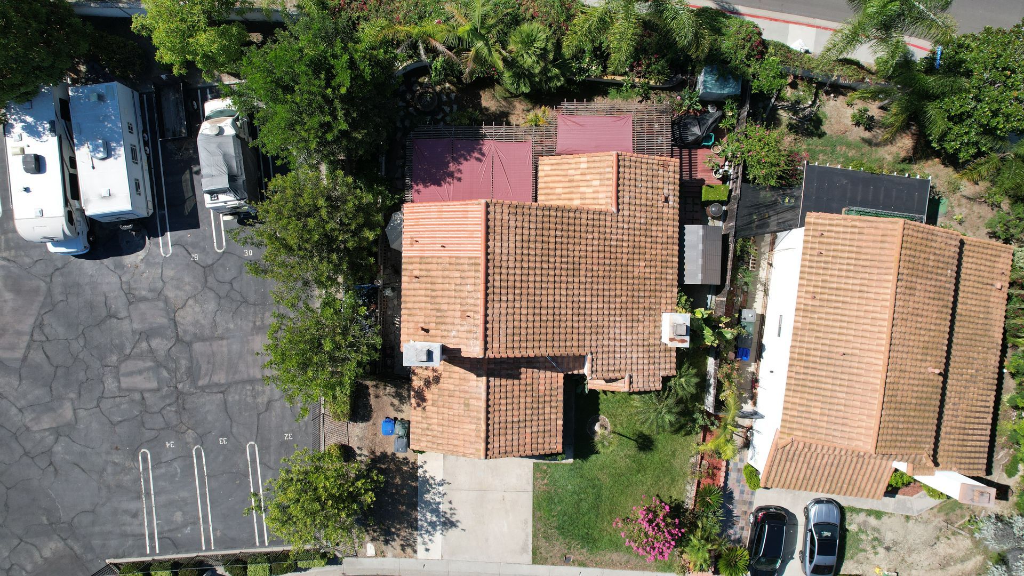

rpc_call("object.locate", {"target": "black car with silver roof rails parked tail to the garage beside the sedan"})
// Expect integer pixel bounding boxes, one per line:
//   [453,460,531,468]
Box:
[746,510,791,576]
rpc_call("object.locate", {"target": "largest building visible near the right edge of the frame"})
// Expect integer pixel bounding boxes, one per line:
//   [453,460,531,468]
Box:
[747,211,1016,506]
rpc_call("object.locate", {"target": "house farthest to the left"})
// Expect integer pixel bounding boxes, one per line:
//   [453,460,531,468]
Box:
[399,148,691,461]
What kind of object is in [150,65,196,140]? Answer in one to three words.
trailer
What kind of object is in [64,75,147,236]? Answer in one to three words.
trailer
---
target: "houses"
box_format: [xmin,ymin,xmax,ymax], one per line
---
[399,148,691,461]
[747,211,1016,506]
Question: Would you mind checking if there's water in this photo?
No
